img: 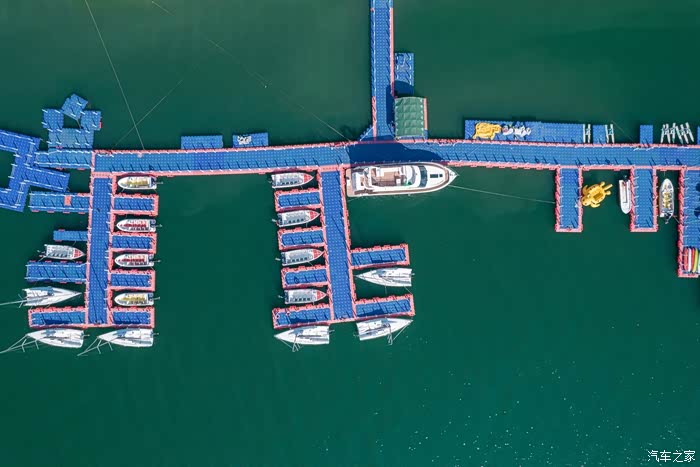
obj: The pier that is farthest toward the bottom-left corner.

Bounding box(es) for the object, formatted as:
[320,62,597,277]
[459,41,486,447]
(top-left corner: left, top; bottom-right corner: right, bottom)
[26,306,87,327]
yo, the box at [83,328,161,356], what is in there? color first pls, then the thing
white boat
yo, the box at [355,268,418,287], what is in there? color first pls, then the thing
white boat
